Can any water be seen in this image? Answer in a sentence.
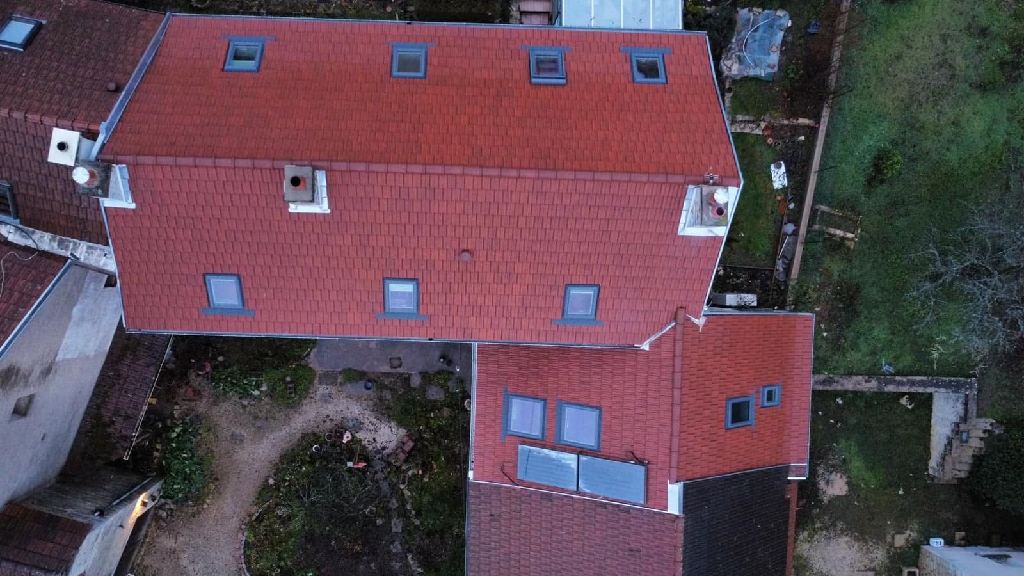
No, there's no water in this view.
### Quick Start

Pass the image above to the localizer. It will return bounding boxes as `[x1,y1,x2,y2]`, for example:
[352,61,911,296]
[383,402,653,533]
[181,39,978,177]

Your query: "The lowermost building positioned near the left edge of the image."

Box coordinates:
[0,463,161,576]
